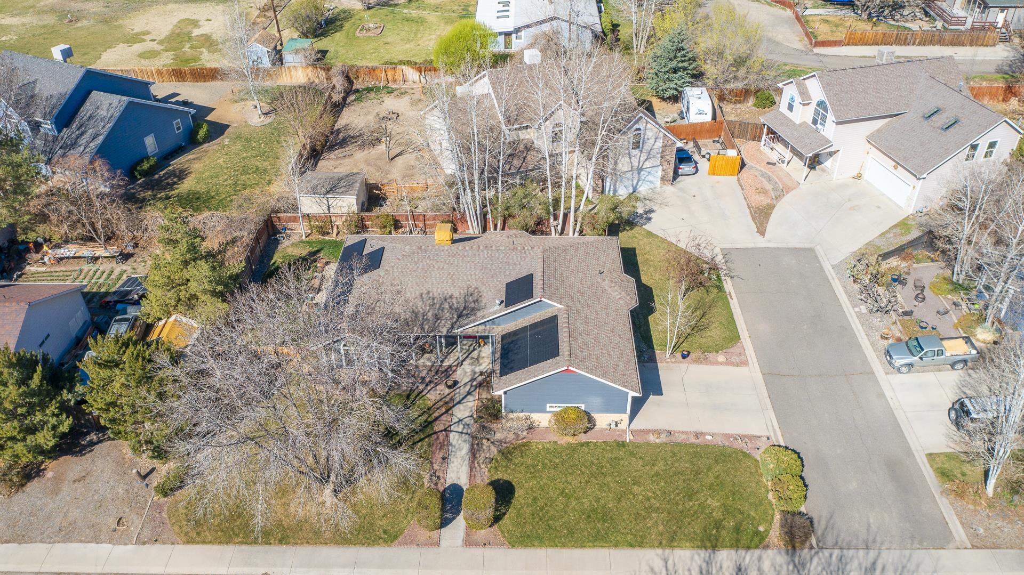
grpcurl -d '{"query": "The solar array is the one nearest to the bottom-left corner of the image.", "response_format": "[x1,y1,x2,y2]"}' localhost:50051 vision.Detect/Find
[98,275,153,320]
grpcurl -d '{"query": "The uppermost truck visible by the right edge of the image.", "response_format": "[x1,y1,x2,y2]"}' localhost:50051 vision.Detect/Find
[874,331,984,375]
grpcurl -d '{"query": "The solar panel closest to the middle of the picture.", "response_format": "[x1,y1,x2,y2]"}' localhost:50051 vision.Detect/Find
[503,269,533,306]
